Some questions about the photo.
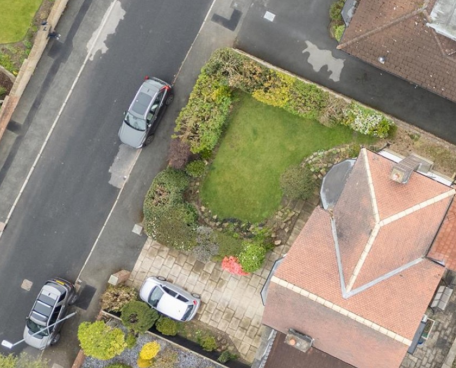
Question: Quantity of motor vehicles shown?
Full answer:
The picture shows 3 motor vehicles.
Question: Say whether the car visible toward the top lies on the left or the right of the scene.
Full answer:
It is on the left.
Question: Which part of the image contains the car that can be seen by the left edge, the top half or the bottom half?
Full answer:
It is in the bottom half that the car that can be seen by the left edge appears.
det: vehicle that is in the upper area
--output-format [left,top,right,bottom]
[110,73,171,152]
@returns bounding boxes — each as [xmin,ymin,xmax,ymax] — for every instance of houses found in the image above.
[260,147,456,368]
[337,0,456,101]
